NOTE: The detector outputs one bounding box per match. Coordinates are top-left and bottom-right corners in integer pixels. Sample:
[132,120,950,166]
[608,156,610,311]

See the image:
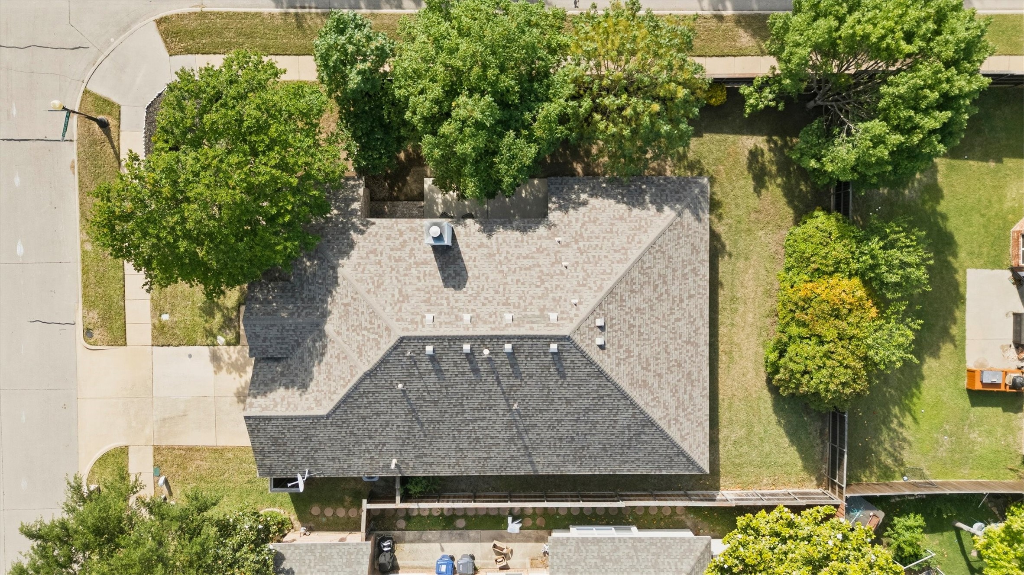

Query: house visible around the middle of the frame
[241,176,709,476]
